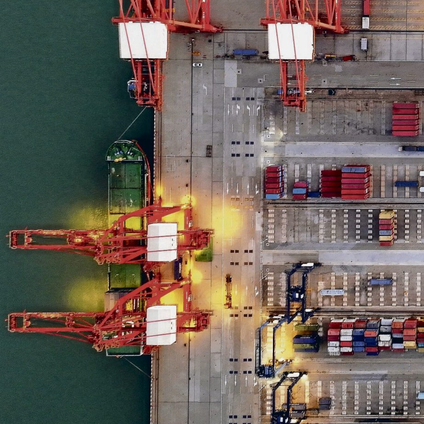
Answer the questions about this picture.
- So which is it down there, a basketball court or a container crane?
container crane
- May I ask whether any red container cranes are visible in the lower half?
Yes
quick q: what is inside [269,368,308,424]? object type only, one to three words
container crane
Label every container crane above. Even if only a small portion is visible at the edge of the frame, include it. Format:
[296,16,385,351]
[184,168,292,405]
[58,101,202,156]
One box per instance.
[4,197,216,265]
[3,272,215,352]
[269,368,308,424]
[268,0,350,111]
[284,259,322,321]
[254,312,294,376]
[119,0,222,110]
